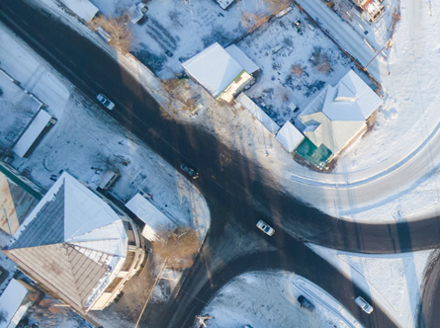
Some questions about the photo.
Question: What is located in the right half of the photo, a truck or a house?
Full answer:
There is a house in the right half of the photo.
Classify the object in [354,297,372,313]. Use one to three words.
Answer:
car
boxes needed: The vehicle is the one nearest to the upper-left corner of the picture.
[94,93,112,108]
